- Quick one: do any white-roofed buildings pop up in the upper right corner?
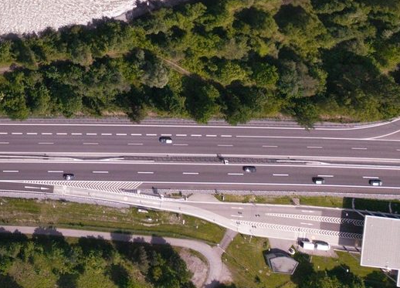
No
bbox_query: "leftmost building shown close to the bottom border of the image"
[264,250,298,274]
